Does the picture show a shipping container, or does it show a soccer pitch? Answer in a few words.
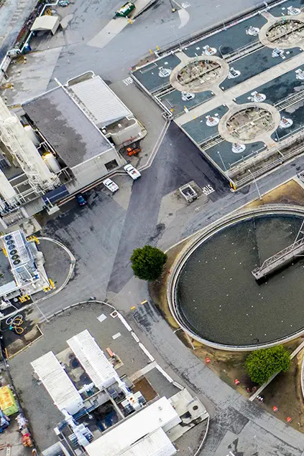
shipping container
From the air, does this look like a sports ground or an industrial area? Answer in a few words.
industrial area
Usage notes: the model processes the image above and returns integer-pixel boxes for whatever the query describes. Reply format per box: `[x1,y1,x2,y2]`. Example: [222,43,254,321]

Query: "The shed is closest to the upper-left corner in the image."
[33,16,64,39]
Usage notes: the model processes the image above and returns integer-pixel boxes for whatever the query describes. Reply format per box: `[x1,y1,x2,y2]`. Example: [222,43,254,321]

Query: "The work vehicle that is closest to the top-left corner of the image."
[125,142,144,156]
